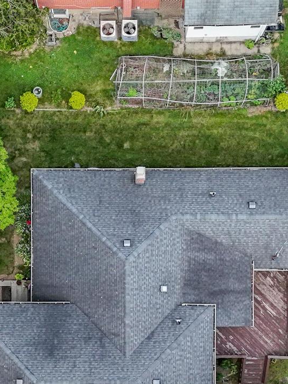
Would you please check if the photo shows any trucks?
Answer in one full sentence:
No, this view has no truck in it.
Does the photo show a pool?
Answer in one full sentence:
No, no pool is visible in the view.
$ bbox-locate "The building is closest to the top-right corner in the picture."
[184,0,281,43]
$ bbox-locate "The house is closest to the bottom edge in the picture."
[0,166,288,384]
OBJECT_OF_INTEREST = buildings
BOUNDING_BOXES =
[34,0,184,18]
[0,166,288,384]
[184,0,281,43]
